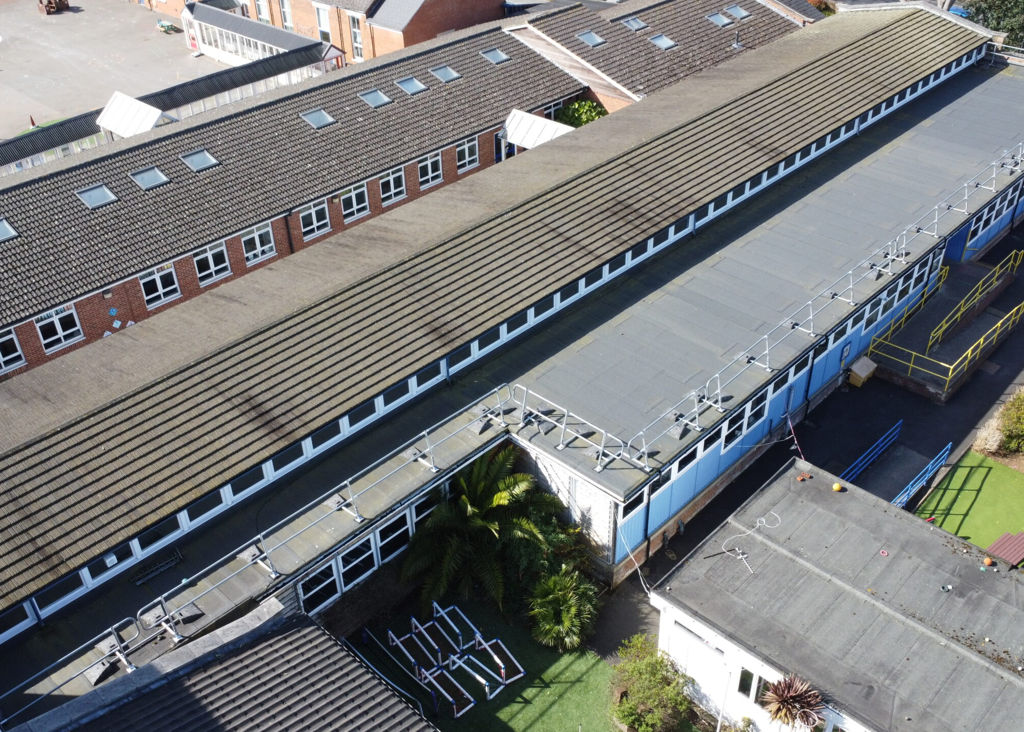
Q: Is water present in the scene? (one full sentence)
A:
No, there's no water in this view.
